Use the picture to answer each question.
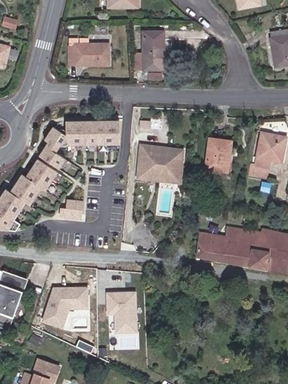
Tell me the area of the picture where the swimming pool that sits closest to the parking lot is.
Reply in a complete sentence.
Look in the center portion of the view to spot the swimming pool that sits closest to the parking lot.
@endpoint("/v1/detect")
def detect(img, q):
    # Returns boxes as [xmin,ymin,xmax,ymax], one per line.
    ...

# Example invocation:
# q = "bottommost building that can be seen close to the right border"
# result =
[198,224,288,274]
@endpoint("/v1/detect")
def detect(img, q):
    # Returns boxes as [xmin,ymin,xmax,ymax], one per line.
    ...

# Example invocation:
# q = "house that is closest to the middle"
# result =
[136,140,185,184]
